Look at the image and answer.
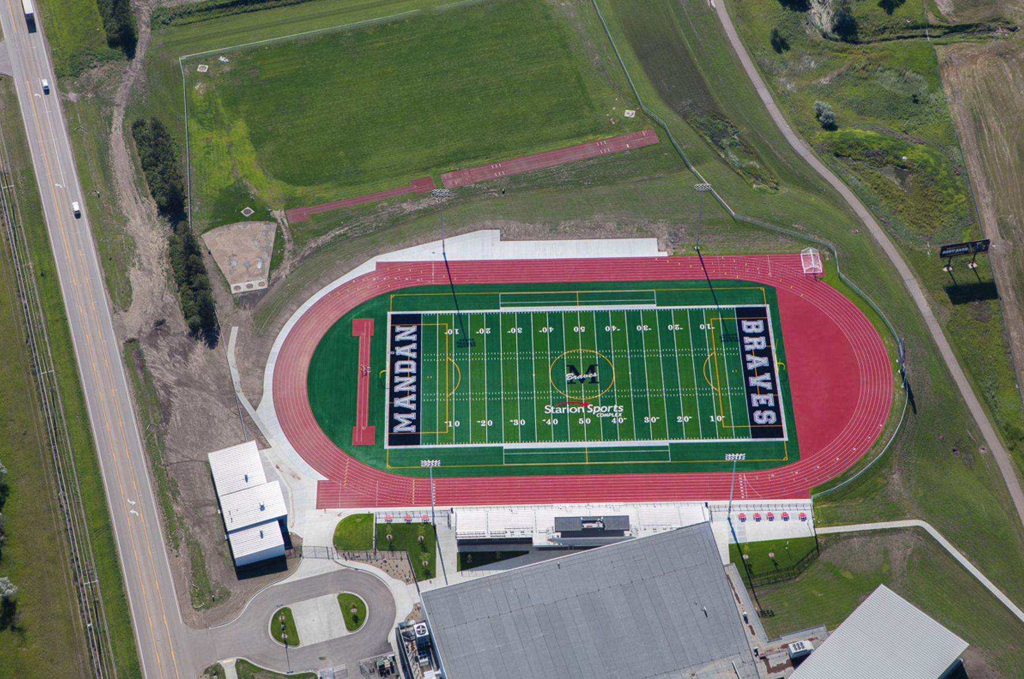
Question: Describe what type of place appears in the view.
sports ground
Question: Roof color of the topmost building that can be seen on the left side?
white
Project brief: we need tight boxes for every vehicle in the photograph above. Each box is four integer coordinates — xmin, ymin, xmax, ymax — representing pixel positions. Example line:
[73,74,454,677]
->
[41,80,49,91]
[22,0,35,21]
[71,202,80,216]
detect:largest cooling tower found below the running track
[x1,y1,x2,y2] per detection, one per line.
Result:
[413,623,429,648]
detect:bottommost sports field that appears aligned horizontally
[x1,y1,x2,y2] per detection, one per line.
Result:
[307,278,799,478]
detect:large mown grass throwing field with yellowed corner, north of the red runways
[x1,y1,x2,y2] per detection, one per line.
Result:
[184,0,661,226]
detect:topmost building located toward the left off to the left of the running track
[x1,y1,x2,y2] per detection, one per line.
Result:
[208,441,267,503]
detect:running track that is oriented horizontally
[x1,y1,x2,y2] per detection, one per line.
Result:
[272,253,893,509]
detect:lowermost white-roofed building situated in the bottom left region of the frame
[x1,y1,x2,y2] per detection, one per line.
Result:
[230,521,285,565]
